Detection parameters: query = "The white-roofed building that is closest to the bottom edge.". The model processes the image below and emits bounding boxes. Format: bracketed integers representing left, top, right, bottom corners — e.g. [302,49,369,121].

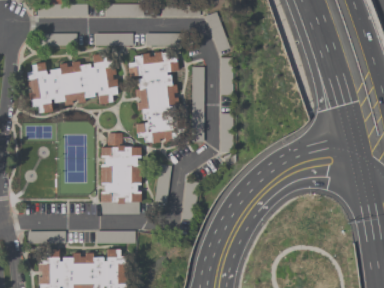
[39,248,128,288]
